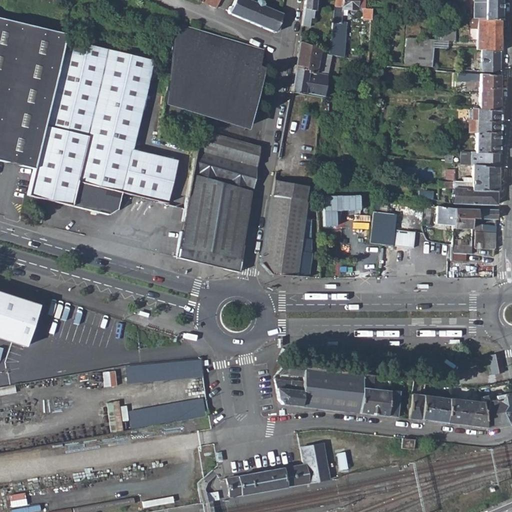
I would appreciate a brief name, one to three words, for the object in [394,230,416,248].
shed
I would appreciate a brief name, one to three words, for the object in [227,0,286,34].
house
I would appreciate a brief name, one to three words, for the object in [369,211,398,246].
building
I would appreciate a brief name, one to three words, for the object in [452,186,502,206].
house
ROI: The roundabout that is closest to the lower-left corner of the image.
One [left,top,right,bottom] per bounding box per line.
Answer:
[216,292,261,338]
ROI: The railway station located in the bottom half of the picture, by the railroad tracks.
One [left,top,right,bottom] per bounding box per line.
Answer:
[226,468,290,498]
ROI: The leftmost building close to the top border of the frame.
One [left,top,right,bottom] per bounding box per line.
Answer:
[0,16,68,170]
